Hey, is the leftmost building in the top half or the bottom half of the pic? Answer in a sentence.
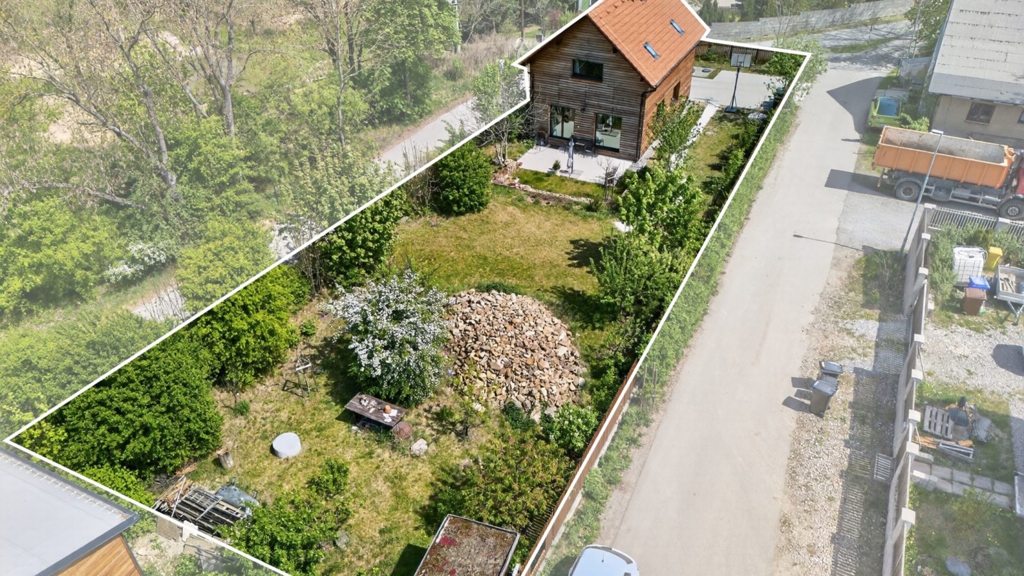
The leftmost building sits in the bottom half of the picture.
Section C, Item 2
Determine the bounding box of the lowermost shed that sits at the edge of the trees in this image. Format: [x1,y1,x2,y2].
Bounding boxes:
[413,512,521,576]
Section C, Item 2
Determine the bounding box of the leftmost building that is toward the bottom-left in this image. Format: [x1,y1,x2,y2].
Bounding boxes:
[0,447,138,576]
